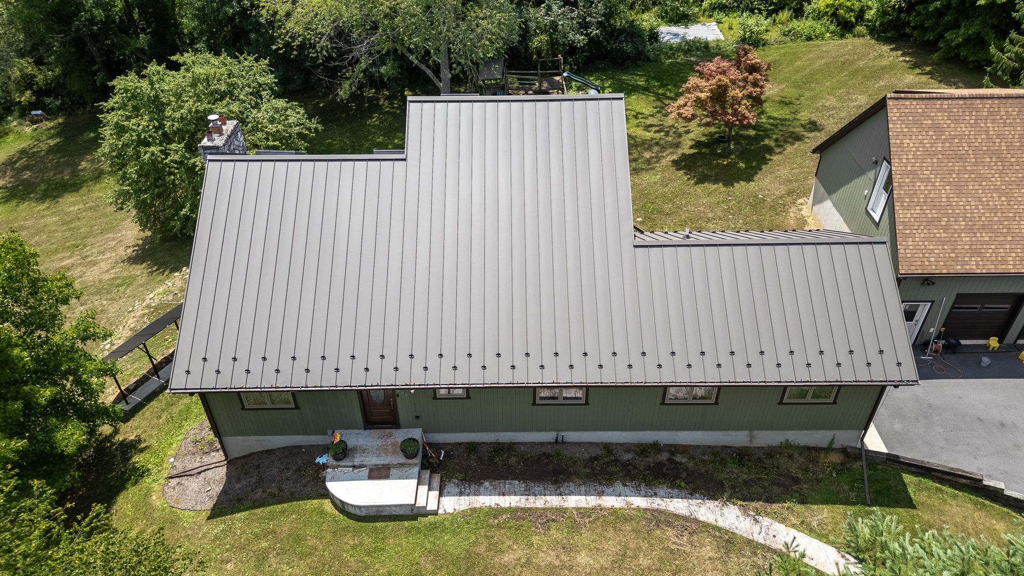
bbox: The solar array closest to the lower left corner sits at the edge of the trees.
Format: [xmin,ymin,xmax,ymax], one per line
[96,302,182,420]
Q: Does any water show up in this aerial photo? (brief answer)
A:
No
